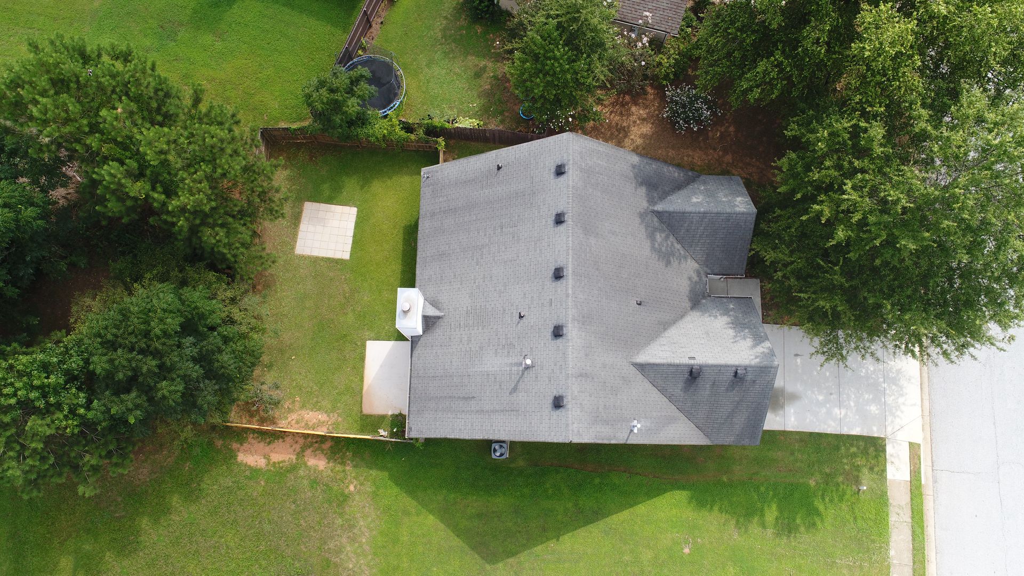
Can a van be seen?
No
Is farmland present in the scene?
No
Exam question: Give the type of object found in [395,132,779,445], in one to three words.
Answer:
house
